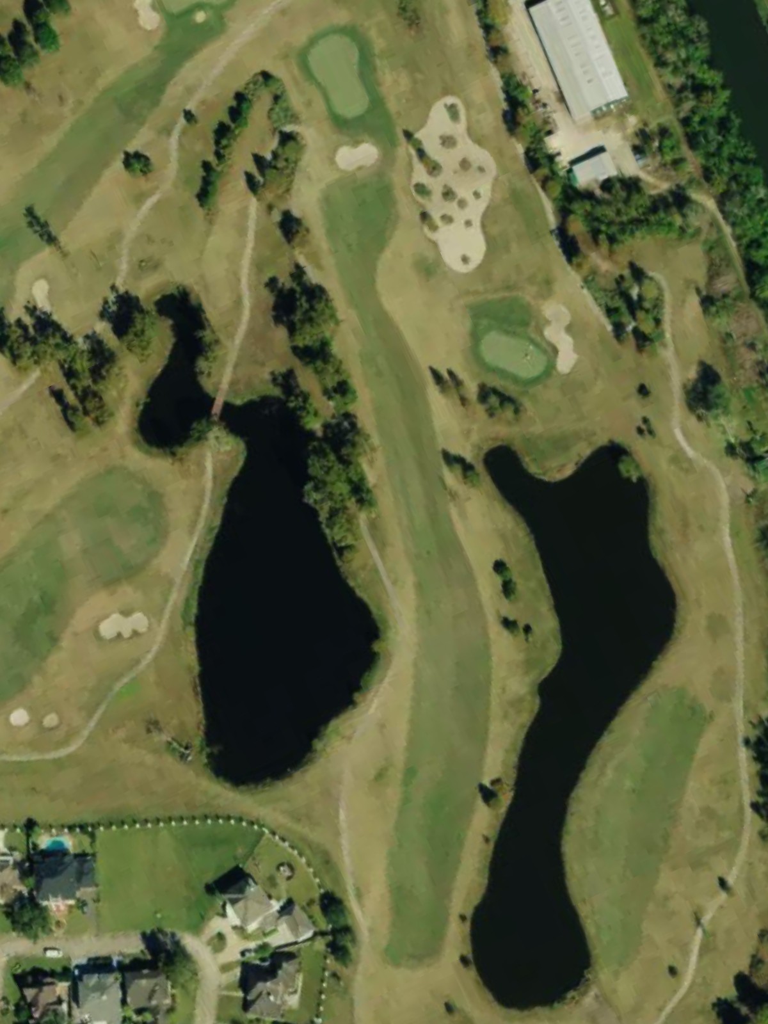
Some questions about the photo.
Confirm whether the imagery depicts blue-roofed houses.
No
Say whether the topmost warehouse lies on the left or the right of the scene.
right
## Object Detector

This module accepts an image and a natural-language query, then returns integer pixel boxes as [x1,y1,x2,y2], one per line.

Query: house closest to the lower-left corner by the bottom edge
[13,968,69,1024]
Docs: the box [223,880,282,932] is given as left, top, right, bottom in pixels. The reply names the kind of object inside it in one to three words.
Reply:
house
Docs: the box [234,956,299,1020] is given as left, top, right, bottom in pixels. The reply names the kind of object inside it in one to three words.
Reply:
house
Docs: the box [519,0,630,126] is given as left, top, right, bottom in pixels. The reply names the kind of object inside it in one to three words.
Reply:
warehouse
